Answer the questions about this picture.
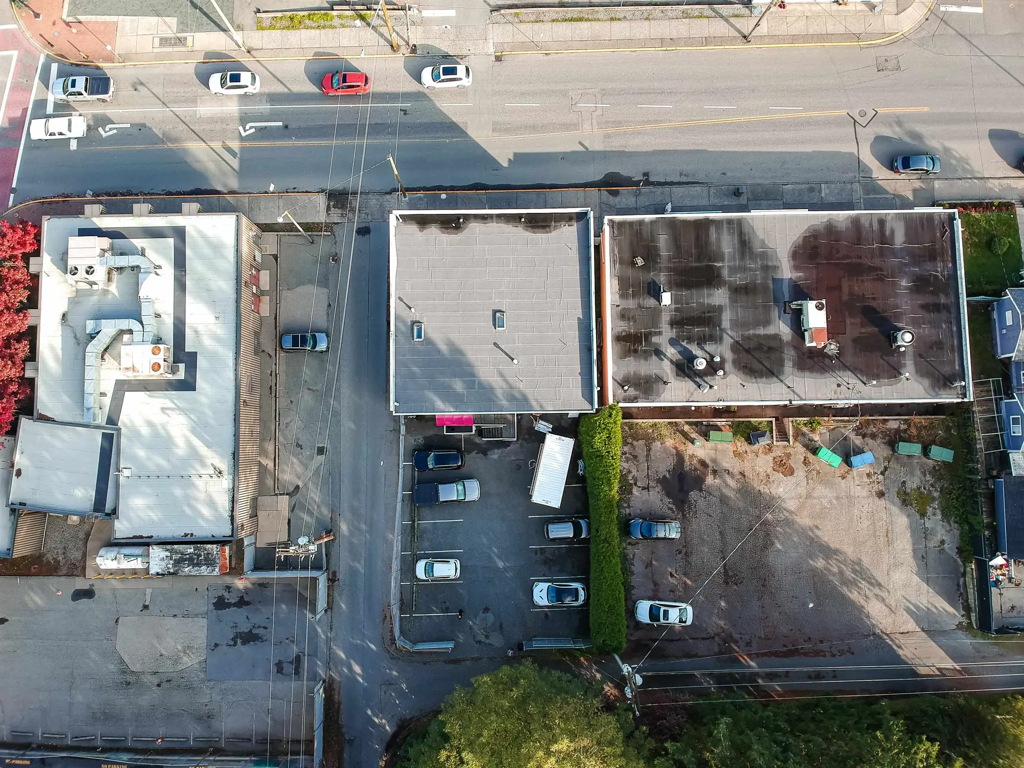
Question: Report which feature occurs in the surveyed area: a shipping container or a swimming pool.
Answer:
shipping container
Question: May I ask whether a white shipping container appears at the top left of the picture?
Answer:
No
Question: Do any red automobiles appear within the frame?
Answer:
Yes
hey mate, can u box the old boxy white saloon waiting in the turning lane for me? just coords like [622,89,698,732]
[30,116,89,142]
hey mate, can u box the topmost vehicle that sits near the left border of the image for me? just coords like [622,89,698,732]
[51,73,117,102]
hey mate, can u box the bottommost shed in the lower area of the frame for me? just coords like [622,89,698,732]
[149,542,236,575]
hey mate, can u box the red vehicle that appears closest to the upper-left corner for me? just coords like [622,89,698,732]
[321,69,372,98]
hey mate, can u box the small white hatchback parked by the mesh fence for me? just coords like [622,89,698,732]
[416,557,460,583]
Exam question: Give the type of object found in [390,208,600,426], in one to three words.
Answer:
building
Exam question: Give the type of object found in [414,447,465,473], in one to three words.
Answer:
car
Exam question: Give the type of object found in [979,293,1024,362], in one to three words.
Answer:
house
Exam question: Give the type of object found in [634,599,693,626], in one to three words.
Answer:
car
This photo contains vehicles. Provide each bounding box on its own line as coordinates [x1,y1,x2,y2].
[545,516,586,543]
[628,516,681,542]
[414,447,465,473]
[421,61,473,90]
[209,69,261,97]
[321,69,372,98]
[532,581,586,607]
[51,73,117,102]
[30,116,89,142]
[414,478,481,506]
[280,329,330,354]
[634,599,693,626]
[891,150,941,177]
[416,557,460,583]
